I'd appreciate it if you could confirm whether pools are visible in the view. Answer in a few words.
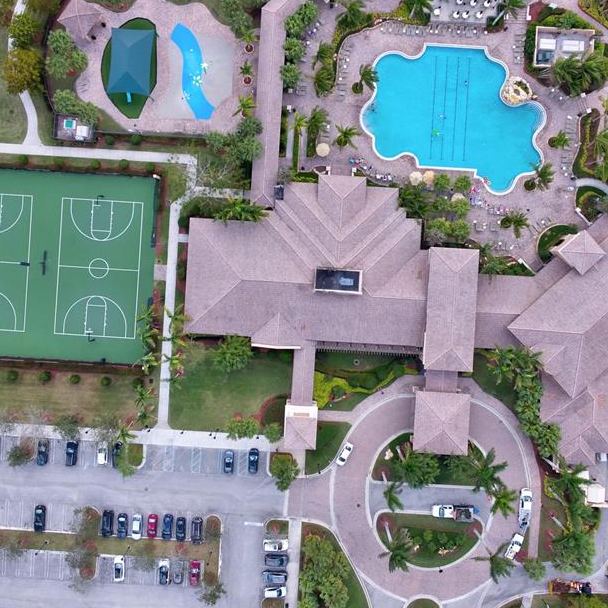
Yes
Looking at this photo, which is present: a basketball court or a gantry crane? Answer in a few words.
basketball court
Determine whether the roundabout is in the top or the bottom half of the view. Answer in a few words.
bottom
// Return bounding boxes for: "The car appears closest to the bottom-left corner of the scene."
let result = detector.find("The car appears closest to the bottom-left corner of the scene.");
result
[31,506,44,532]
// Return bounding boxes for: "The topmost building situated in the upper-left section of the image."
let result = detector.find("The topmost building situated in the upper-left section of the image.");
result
[57,0,102,41]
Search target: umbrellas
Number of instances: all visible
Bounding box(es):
[451,191,464,204]
[422,172,435,184]
[409,172,422,185]
[316,143,330,157]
